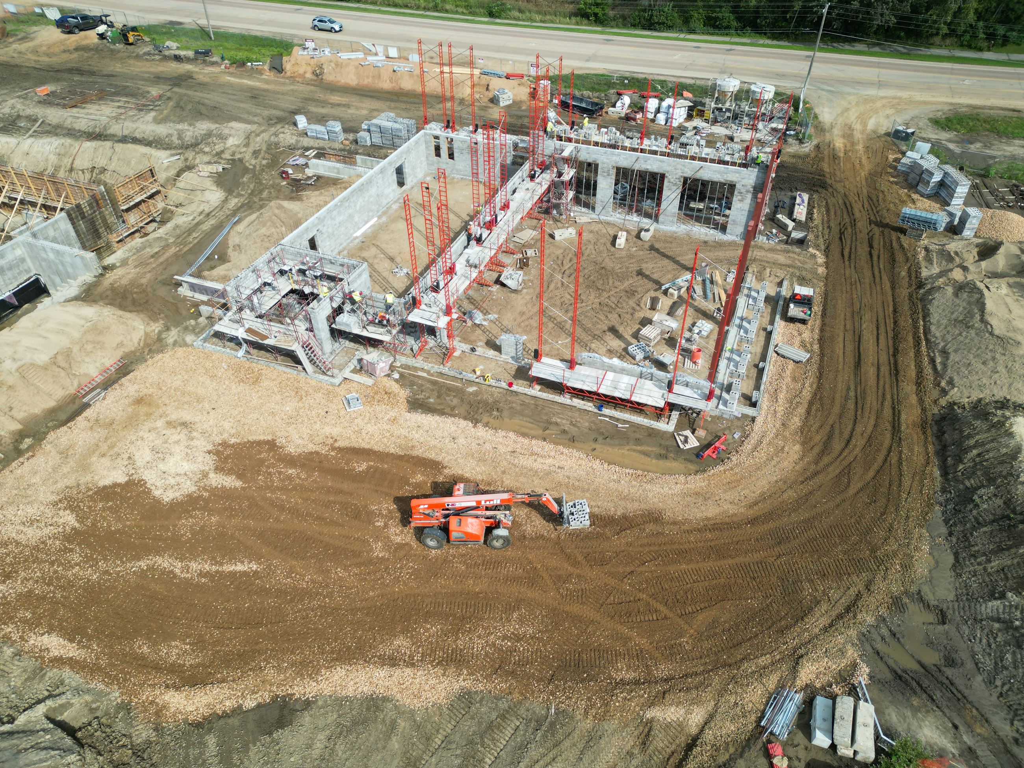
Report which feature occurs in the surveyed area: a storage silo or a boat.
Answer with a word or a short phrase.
storage silo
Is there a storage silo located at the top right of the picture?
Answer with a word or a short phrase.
Yes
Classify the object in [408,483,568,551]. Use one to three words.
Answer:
work vehicle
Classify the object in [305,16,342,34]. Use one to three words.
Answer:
car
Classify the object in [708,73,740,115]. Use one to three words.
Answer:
silo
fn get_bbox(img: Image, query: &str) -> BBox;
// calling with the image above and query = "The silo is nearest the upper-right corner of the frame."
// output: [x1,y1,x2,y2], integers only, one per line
[744,75,777,117]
